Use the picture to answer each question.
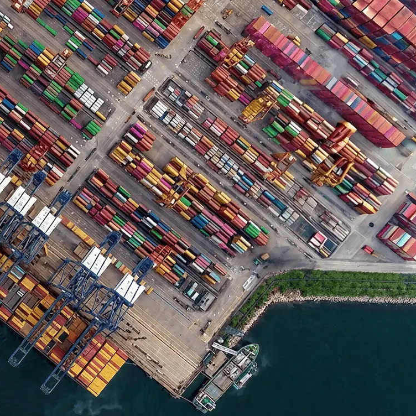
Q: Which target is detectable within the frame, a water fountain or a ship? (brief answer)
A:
ship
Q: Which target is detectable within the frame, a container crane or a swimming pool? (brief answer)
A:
container crane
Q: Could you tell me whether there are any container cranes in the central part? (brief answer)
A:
Yes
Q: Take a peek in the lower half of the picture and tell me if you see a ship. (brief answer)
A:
Yes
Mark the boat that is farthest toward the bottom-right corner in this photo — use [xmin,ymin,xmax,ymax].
[232,363,258,392]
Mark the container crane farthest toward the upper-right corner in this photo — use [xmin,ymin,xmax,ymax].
[317,118,362,158]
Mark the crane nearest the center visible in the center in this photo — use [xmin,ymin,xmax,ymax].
[152,166,204,215]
